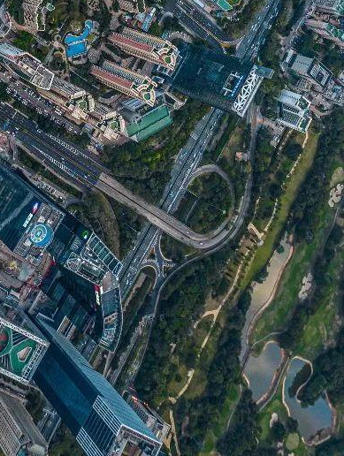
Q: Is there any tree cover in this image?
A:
Yes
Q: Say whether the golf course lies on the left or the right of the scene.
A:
right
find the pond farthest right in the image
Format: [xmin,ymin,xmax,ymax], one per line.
[285,359,332,442]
